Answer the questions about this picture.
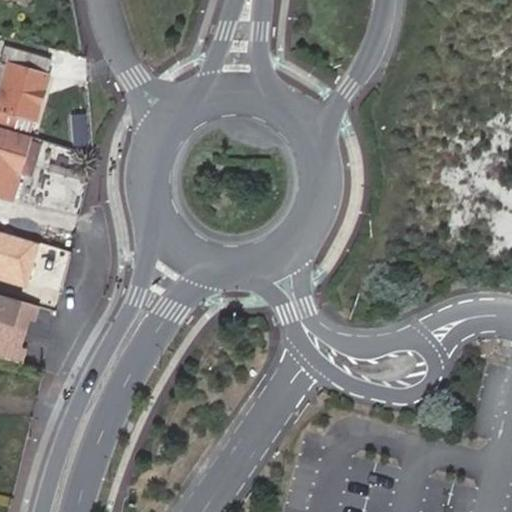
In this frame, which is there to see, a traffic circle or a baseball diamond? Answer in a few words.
traffic circle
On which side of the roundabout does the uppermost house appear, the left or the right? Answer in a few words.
to the left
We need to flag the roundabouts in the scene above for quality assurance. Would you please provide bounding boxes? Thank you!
[126,68,344,296]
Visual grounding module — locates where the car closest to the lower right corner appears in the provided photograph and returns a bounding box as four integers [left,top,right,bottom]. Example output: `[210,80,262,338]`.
[370,474,394,488]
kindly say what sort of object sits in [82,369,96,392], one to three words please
car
